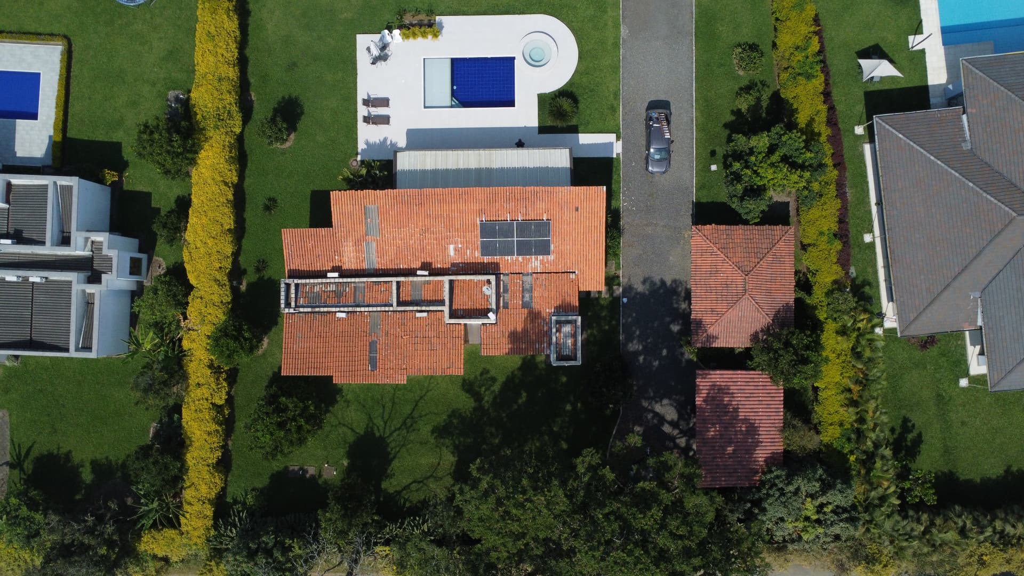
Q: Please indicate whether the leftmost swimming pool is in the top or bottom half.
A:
top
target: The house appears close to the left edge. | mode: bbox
[0,174,148,357]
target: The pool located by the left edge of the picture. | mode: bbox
[0,70,43,122]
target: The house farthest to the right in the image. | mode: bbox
[866,50,1024,394]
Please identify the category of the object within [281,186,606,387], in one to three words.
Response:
house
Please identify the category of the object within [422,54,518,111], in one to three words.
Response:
swimming pool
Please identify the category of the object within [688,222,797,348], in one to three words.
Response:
building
